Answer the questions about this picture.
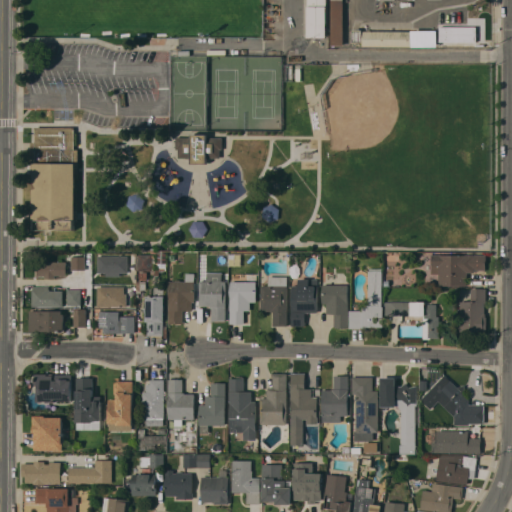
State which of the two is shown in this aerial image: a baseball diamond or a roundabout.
baseball diamond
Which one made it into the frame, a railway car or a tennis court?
tennis court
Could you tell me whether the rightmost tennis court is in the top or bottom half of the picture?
top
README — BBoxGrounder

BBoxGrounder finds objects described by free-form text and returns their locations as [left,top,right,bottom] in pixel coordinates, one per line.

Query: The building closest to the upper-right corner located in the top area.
[438,26,476,46]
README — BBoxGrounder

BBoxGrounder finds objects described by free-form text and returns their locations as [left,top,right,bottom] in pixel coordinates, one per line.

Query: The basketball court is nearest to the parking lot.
[172,56,208,130]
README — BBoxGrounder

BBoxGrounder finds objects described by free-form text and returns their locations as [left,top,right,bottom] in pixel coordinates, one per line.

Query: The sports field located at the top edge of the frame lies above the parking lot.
[24,0,262,46]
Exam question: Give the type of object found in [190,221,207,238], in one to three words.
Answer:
gazebo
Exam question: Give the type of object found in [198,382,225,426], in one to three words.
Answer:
house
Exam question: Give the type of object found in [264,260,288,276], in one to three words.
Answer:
swimming pool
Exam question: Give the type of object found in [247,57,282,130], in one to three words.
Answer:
tennis court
